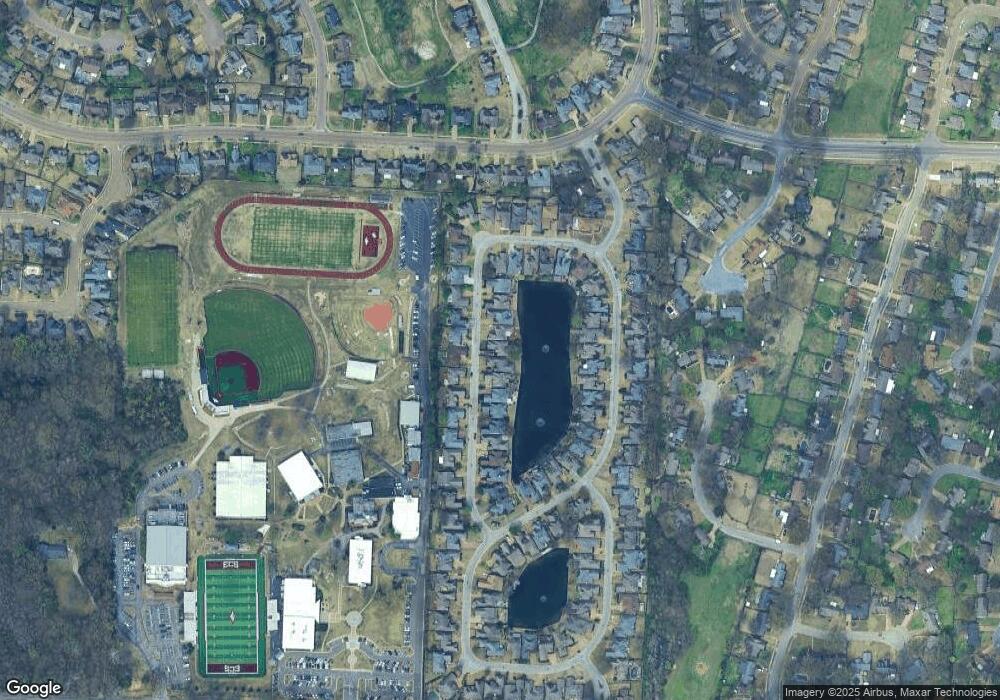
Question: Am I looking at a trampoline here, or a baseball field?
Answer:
baseball field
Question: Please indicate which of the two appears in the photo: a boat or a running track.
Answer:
running track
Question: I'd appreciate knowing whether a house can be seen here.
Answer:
Yes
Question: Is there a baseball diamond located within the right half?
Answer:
No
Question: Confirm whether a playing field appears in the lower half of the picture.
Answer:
Yes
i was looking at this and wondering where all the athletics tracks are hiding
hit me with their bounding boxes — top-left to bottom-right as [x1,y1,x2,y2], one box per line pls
[215,196,393,277]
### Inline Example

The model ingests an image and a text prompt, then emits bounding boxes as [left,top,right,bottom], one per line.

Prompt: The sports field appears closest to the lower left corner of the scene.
[196,554,266,679]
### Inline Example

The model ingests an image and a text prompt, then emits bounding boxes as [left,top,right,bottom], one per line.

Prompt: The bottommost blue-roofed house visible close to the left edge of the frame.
[37,545,65,557]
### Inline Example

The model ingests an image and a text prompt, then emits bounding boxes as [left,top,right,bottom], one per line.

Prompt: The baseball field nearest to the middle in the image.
[331,296,395,362]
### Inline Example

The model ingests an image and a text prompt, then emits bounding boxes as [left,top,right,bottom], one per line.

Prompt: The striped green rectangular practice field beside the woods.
[127,250,179,366]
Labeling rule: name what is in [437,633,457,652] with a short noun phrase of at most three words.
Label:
house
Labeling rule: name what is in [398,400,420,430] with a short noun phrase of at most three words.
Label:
building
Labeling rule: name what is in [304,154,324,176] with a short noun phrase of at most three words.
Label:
house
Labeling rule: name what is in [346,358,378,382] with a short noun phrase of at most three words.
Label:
building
